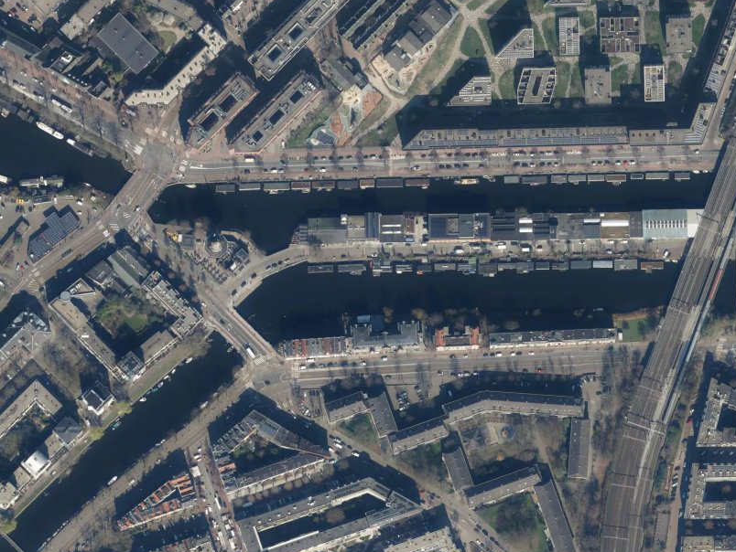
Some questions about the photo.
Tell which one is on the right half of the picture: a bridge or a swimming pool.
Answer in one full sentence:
There is a bridge on the right half of the picture.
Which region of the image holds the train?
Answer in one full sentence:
The train appears toward the right of the photo.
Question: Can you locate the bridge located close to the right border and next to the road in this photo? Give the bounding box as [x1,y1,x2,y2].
[600,128,736,552]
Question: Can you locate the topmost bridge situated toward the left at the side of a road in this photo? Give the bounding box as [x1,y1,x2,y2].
[109,169,165,211]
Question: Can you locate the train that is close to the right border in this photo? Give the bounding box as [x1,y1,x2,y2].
[672,221,736,390]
